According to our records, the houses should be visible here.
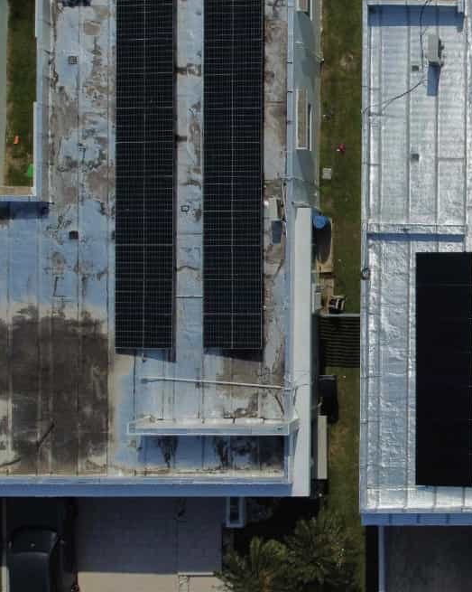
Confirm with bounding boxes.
[0,0,324,496]
[362,0,472,524]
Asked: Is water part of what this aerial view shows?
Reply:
No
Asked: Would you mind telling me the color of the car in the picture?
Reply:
black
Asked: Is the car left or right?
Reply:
left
